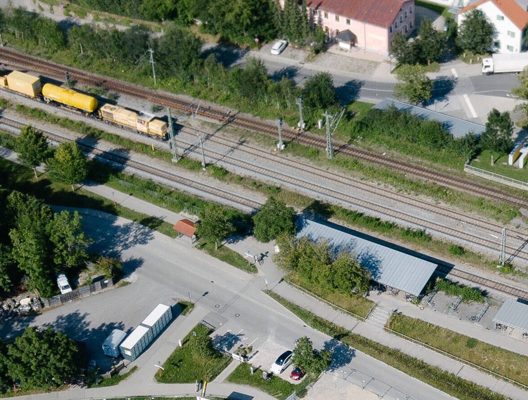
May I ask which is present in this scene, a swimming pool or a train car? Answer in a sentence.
Of the two, only a train car appears.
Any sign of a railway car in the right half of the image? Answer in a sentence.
No, no railway car appears in the right half of the image.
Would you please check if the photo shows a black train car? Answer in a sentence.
No, no black train car is visible in the view.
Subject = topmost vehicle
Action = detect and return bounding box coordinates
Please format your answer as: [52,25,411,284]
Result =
[269,37,289,53]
